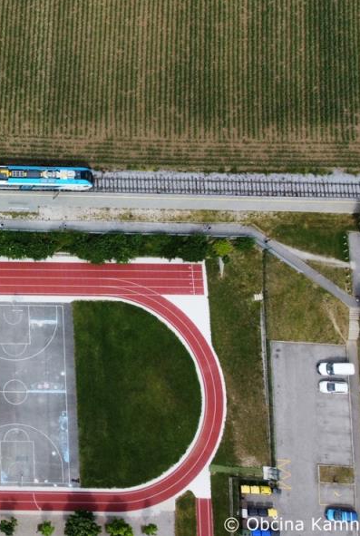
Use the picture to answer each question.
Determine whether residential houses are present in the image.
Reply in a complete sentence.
No, no residential house is visible in the scene.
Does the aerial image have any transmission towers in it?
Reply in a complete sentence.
No, I find no transmission tower anywhere in the image.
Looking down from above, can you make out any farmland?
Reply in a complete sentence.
Yes, farmland can be seen from above here.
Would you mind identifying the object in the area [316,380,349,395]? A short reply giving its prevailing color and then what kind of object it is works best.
white car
